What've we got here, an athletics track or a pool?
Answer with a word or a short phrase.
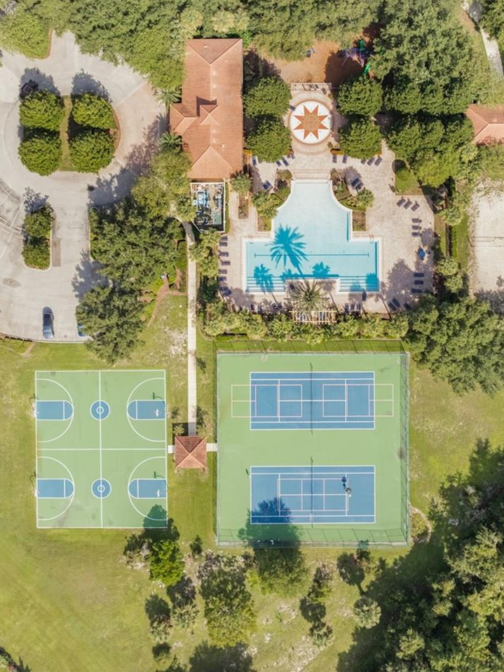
pool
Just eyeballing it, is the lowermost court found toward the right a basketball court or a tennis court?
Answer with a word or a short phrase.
tennis court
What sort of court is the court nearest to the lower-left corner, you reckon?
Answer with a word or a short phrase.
basketball court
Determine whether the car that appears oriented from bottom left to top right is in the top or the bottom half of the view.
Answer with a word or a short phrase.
top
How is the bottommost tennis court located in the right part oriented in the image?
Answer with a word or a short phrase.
horizontally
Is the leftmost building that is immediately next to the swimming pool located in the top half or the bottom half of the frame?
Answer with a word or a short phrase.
top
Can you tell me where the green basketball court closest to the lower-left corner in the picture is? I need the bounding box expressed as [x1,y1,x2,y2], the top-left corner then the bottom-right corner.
[36,450,167,529]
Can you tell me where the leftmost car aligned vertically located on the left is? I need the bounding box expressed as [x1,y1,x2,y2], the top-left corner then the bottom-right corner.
[42,312,54,337]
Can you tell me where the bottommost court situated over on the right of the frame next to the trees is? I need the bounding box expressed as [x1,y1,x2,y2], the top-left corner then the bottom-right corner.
[217,448,409,542]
